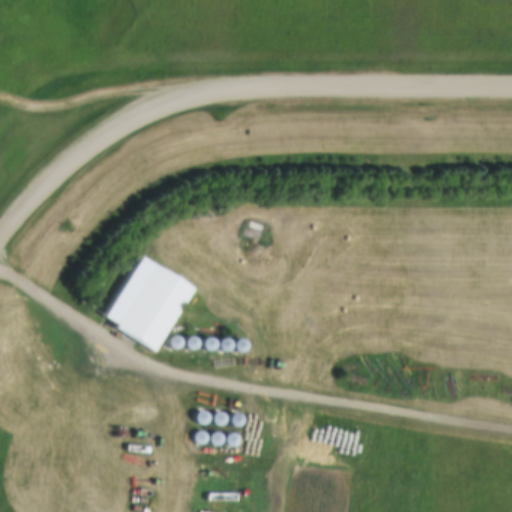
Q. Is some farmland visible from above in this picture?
Yes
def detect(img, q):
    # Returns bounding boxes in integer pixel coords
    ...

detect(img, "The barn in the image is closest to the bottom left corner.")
[107,256,196,352]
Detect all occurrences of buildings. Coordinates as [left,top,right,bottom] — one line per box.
[107,256,196,352]
[244,221,264,242]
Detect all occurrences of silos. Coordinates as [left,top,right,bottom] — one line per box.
[219,336,235,354]
[235,337,251,355]
[202,335,218,353]
[194,430,210,448]
[226,432,243,449]
[185,334,202,353]
[230,410,247,430]
[168,334,184,352]
[196,408,212,428]
[210,430,227,450]
[214,409,230,428]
